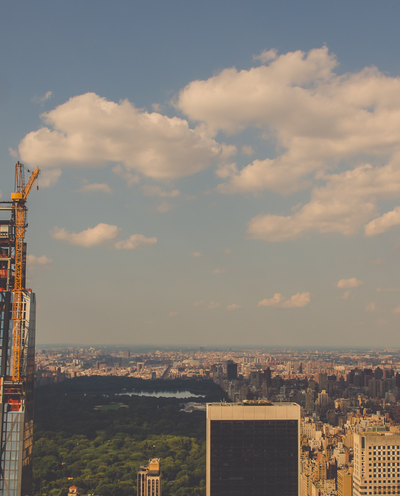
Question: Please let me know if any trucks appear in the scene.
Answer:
No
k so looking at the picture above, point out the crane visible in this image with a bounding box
[11,162,40,382]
